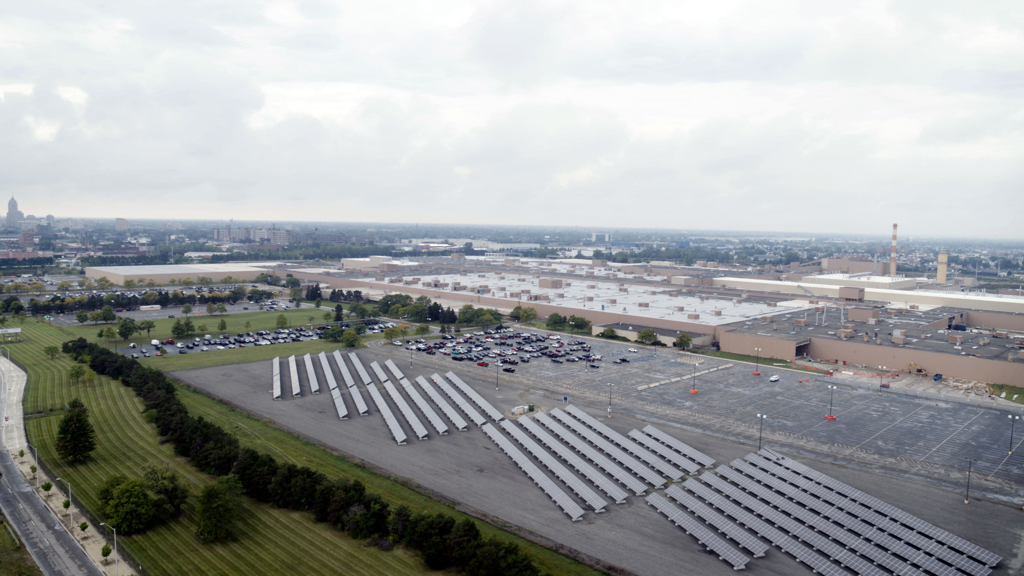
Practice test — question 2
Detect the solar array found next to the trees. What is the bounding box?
[168,348,1024,576]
